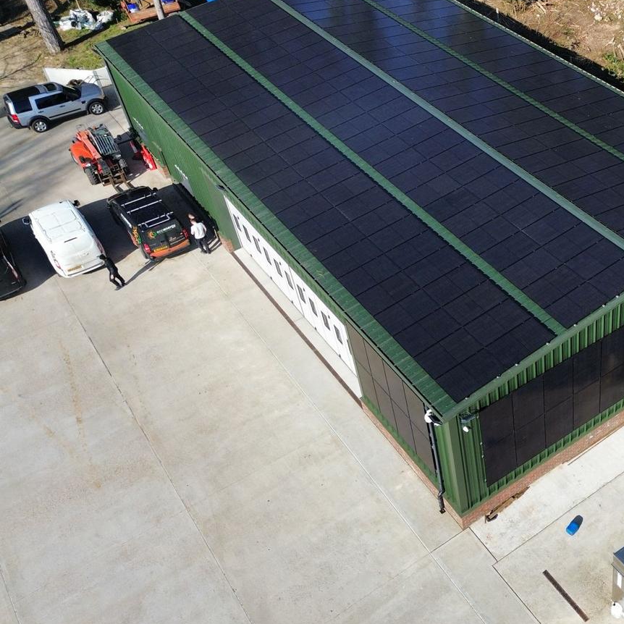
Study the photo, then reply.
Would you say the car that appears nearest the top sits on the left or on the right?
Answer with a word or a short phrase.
left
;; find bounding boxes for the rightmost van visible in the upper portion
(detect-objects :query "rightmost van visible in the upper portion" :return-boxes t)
[107,189,189,262]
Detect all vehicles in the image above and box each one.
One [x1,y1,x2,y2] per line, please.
[59,118,132,200]
[107,189,189,262]
[23,203,102,275]
[0,233,25,289]
[0,79,112,132]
